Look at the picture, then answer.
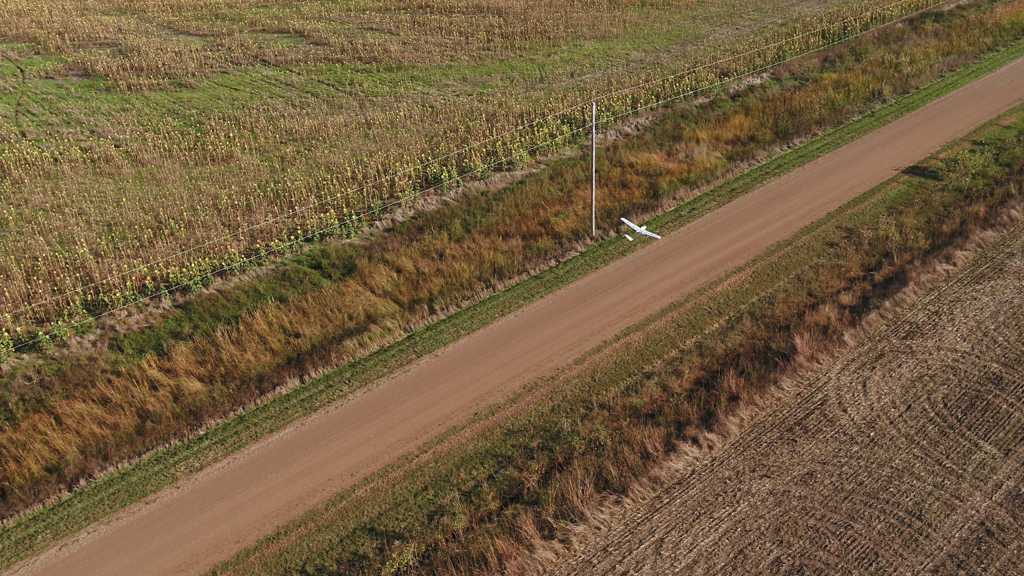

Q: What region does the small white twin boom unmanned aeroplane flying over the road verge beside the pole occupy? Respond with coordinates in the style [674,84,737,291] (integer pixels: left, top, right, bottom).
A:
[620,217,661,238]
